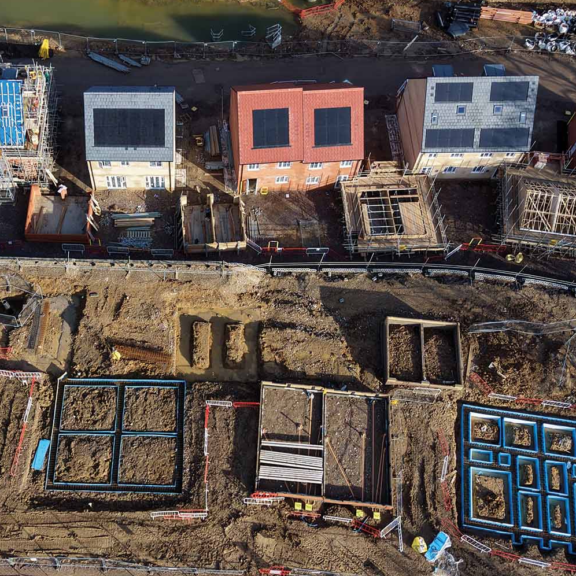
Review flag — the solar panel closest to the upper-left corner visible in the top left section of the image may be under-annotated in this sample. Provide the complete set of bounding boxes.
[95,111,163,146]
